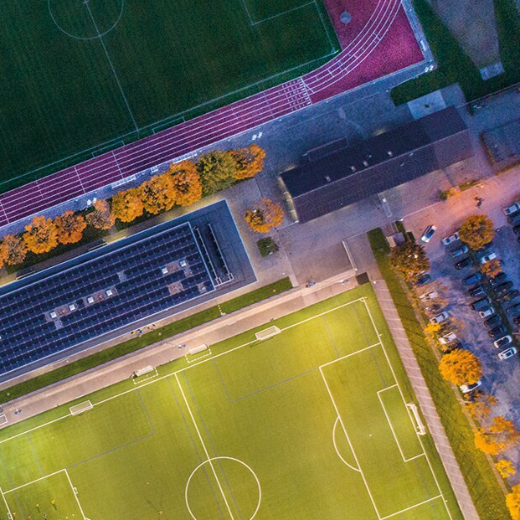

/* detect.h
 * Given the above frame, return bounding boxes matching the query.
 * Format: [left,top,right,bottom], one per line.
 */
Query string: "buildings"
[386,233,407,248]
[278,105,475,221]
[0,199,281,384]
